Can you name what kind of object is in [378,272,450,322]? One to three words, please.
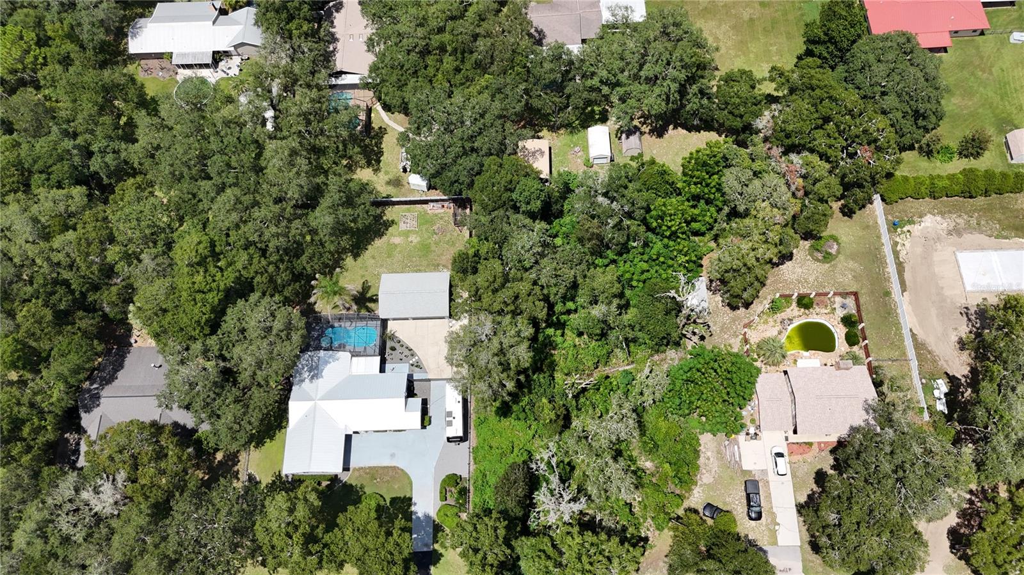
building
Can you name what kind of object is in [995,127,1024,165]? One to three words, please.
shed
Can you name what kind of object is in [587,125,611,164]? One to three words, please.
shed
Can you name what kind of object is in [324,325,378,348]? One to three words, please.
swimming pool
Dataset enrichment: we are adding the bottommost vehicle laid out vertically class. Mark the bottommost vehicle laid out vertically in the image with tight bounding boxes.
[744,478,764,523]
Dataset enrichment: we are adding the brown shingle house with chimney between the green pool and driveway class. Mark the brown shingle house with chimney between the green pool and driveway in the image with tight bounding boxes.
[752,358,880,439]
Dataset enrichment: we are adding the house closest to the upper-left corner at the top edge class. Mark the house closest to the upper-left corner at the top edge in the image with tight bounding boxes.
[128,0,270,71]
